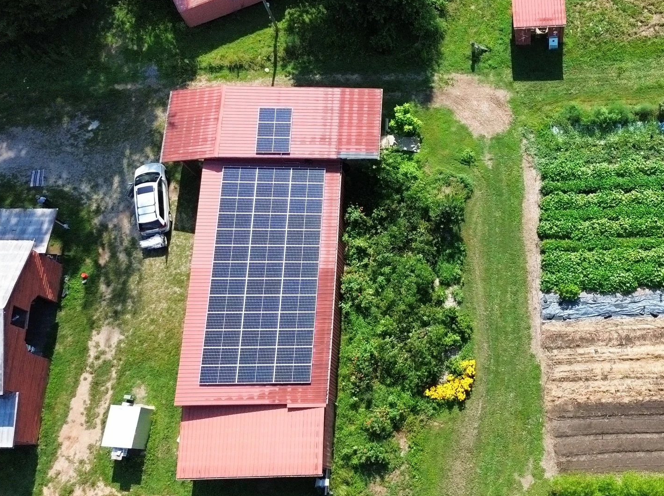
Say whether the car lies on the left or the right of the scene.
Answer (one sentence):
It is on the left.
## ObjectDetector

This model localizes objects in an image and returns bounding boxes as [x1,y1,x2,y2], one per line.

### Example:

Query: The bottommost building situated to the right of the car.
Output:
[159,78,385,481]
